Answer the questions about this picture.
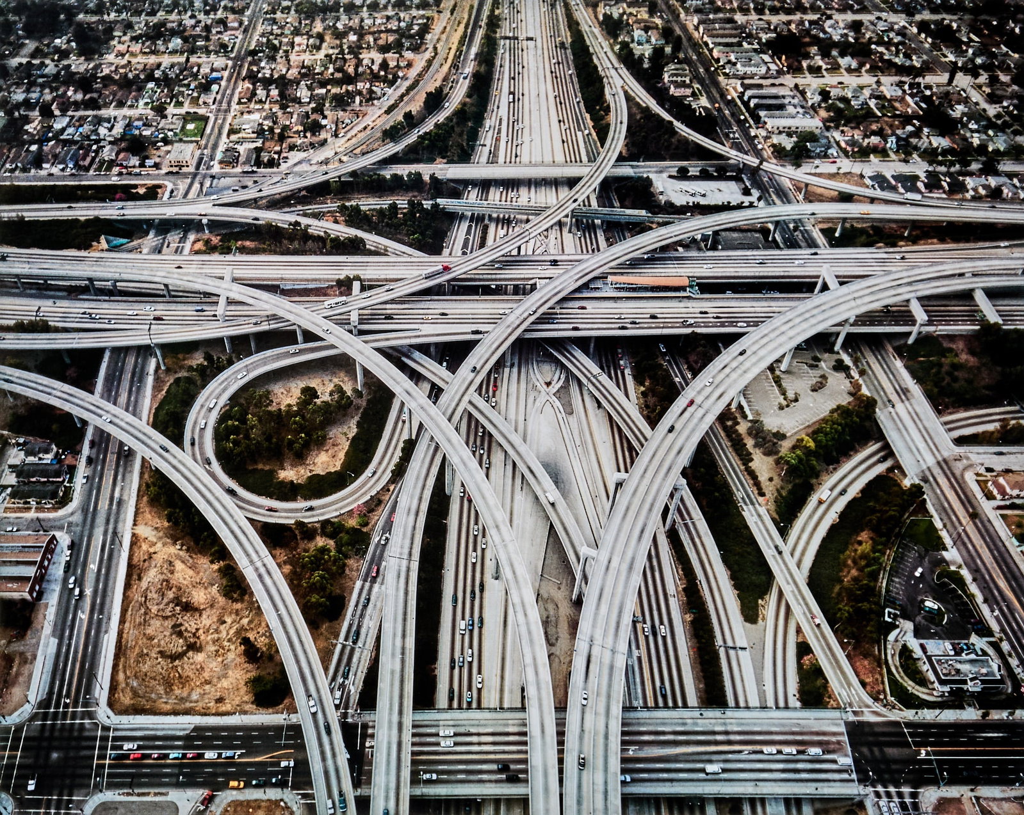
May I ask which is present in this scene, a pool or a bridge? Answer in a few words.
bridge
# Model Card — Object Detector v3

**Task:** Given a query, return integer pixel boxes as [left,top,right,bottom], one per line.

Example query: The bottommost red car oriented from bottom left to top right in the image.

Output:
[199,792,212,806]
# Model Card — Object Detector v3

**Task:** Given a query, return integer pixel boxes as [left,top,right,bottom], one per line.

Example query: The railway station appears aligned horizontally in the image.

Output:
[566,277,701,296]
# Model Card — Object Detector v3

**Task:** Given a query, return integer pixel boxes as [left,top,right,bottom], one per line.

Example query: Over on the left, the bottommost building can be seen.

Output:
[0,526,54,602]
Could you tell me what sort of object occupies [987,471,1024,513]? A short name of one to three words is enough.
house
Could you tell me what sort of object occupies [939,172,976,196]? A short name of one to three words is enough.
house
